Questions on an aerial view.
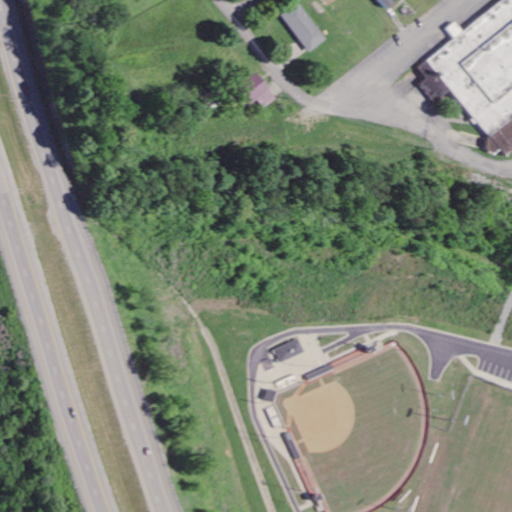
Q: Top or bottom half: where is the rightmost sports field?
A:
bottom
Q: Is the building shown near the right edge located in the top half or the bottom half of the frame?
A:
top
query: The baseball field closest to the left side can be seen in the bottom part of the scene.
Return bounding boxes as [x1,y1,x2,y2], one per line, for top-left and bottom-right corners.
[276,342,430,512]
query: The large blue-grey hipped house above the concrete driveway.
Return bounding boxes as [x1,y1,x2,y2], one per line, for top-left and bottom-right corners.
[281,4,326,52]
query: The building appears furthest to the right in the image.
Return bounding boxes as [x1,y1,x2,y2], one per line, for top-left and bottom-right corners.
[418,0,512,156]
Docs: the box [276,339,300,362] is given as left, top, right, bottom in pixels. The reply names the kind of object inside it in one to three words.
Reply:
building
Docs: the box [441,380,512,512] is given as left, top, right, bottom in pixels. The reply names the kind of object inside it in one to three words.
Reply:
sports field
